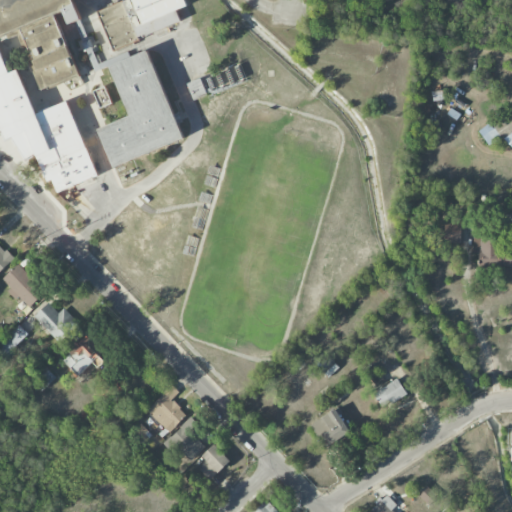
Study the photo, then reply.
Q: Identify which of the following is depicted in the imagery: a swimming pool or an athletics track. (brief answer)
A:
athletics track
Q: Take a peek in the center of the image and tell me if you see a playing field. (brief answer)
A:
Yes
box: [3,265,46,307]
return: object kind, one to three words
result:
house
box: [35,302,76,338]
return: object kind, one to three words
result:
house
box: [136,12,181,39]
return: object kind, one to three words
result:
building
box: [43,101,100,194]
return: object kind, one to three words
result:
building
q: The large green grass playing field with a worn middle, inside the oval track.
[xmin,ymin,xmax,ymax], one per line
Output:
[183,103,342,358]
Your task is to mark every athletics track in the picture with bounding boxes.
[180,100,345,361]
